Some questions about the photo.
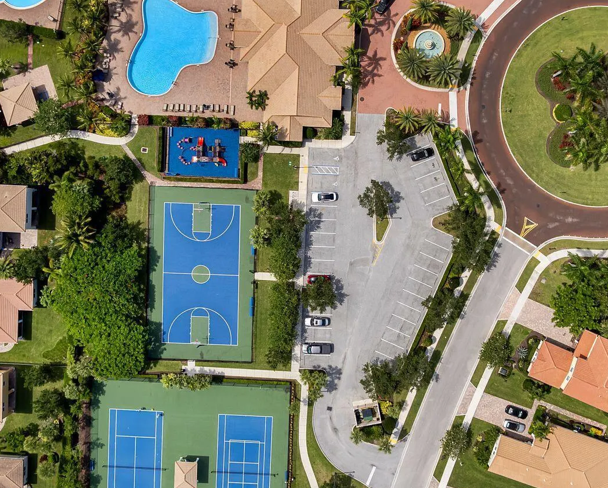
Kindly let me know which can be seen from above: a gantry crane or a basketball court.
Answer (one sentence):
I can see a basketball court in this picture.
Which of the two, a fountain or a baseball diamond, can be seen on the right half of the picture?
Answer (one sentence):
It is a fountain that can be seen on the right half of the picture.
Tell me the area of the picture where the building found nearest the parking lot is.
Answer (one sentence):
The building found nearest the parking lot appears toward the top of the photo.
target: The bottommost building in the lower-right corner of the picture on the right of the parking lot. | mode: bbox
[487,425,608,488]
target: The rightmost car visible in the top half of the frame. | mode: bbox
[410,146,434,161]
